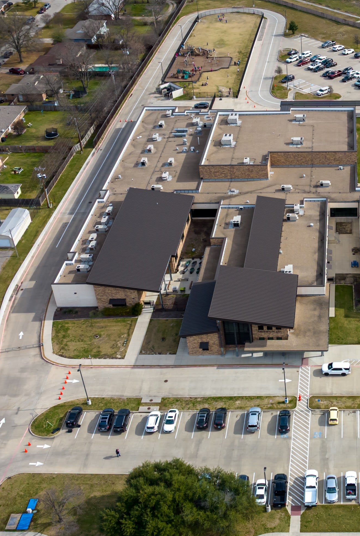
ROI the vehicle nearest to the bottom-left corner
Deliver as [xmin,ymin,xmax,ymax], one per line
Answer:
[62,407,82,430]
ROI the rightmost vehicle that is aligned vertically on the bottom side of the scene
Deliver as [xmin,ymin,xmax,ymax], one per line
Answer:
[342,472,358,504]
